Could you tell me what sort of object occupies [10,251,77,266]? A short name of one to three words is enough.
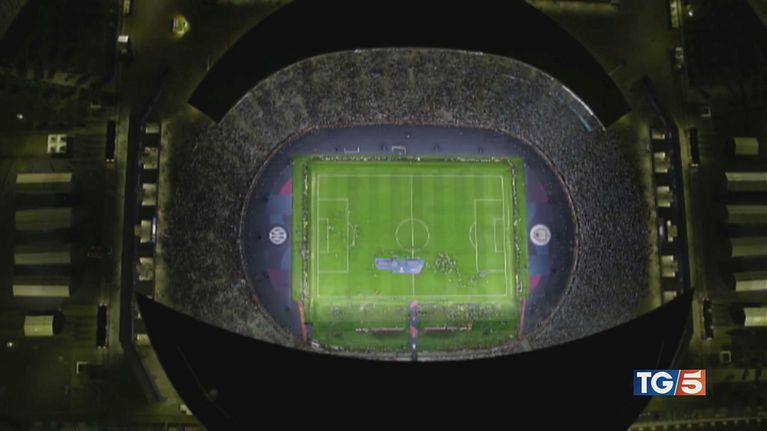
tent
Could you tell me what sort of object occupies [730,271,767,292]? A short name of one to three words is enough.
tent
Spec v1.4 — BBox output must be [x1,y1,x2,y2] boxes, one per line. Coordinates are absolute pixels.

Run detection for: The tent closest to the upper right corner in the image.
[729,137,760,157]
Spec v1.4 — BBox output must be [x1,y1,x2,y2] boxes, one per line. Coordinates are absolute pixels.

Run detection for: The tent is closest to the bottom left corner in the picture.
[21,315,60,336]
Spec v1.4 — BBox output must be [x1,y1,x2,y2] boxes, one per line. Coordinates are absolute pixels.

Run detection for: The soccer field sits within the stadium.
[293,157,527,343]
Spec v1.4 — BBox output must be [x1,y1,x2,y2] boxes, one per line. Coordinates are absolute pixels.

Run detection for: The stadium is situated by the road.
[135,0,693,431]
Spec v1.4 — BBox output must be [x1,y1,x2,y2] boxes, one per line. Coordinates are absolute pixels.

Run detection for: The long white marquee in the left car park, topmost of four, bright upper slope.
[13,173,79,193]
